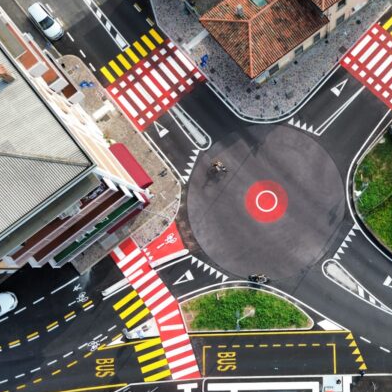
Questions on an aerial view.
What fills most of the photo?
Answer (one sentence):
What you mostly see from above here is paved ground.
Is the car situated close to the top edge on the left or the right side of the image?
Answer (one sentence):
You can find the car situated close to the top edge on the left side of the picture.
